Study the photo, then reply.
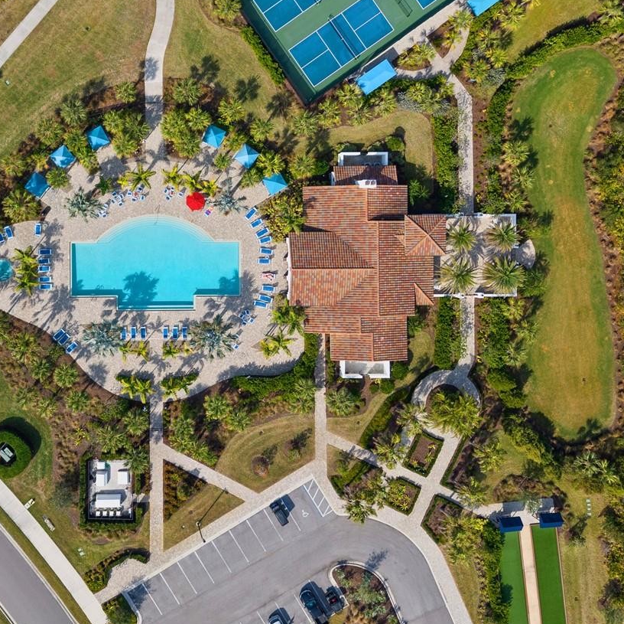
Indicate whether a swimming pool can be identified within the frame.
Yes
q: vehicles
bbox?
[300,587,328,624]
[324,587,343,612]
[269,613,286,624]
[268,502,289,530]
